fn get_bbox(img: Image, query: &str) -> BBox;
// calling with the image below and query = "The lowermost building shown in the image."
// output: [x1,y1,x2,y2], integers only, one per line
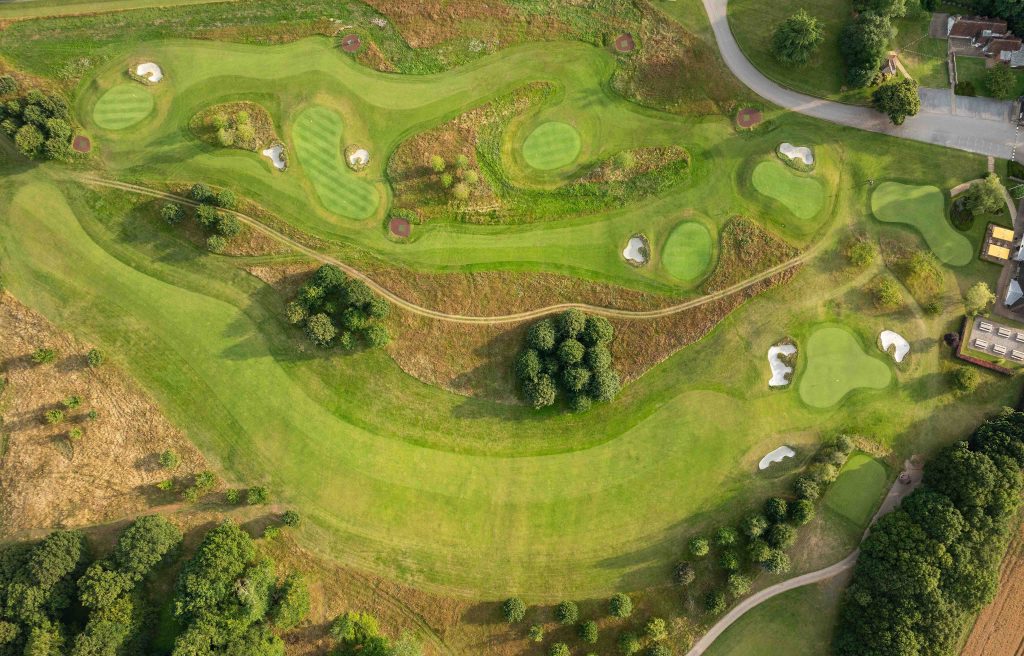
[996,264,1024,315]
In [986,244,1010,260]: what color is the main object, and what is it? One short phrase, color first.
yellow umbrella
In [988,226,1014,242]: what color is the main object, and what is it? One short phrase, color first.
yellow umbrella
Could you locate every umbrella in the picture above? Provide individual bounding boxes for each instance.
[986,244,1010,260]
[988,226,1014,242]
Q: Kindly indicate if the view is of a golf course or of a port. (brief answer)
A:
golf course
